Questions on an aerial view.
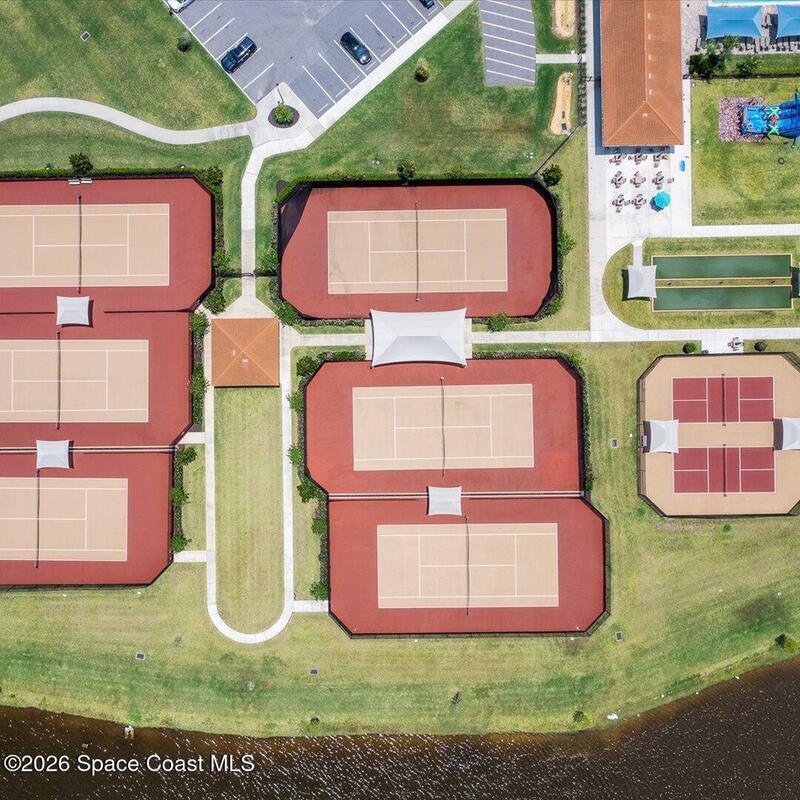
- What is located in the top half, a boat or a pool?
pool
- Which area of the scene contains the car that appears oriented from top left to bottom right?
top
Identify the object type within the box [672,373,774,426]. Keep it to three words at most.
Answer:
sports court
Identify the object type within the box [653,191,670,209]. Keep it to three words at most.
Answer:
umbrella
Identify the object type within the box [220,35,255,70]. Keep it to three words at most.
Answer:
car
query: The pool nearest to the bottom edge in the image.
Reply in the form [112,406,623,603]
[738,104,769,136]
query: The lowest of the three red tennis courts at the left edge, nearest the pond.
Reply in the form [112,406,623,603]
[0,451,170,586]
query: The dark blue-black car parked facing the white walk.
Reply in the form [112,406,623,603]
[340,29,371,63]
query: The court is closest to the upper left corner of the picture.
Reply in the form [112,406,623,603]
[0,178,214,311]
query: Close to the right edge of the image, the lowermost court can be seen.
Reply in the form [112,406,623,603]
[673,445,776,496]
